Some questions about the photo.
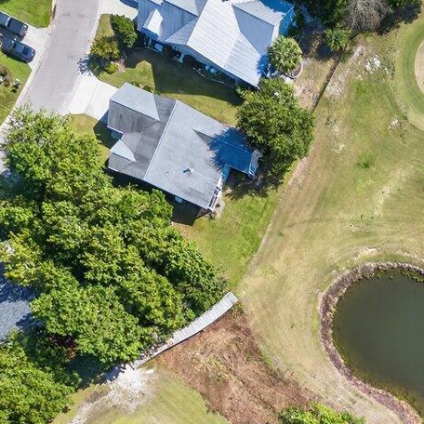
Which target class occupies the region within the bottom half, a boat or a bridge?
bridge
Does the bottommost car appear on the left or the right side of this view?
left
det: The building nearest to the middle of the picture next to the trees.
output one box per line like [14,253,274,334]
[108,82,255,211]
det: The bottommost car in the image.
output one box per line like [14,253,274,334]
[0,36,40,65]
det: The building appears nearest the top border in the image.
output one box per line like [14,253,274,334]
[138,0,296,90]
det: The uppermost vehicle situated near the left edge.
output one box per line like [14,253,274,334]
[0,10,33,43]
